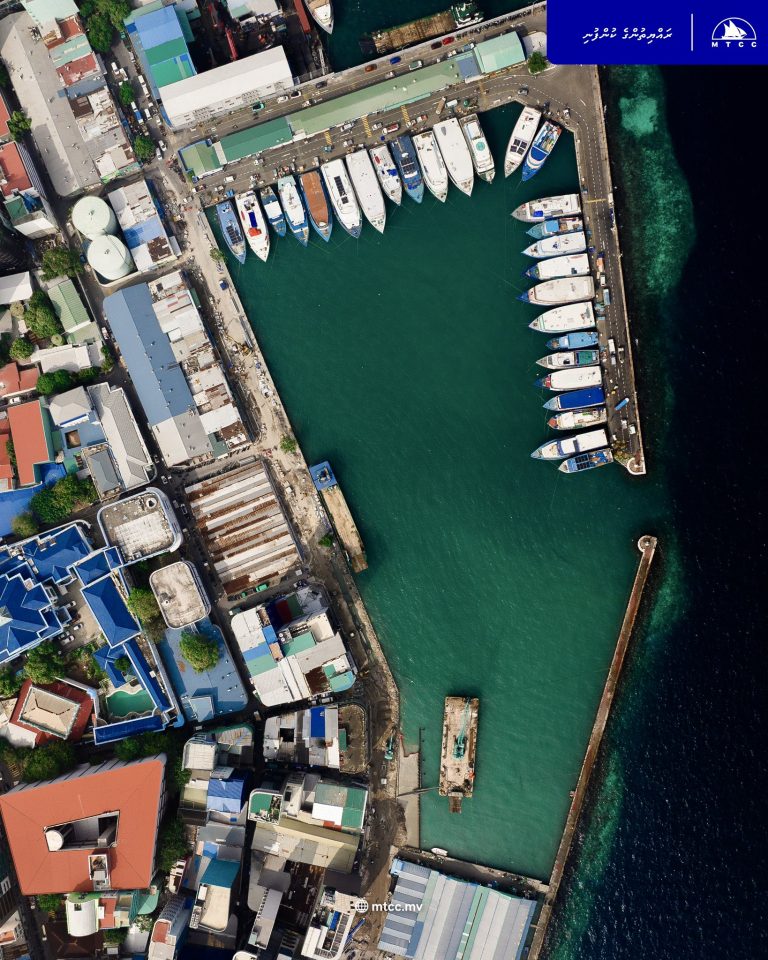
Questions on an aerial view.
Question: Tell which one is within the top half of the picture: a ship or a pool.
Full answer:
What appears within the top half of the picture is a ship.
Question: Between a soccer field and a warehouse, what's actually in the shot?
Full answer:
There is a warehouse in the scene.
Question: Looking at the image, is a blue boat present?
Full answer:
Yes, the frame does contain a blue boat.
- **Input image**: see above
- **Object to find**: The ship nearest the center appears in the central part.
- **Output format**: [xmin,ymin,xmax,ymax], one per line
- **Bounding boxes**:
[309,460,369,577]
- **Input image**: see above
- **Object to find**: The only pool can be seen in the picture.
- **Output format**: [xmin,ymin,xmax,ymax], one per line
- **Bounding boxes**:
[104,682,163,723]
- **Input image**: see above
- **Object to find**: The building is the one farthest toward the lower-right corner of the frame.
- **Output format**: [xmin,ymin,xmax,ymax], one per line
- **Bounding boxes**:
[376,854,539,960]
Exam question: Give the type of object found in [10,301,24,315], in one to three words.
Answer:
umbrella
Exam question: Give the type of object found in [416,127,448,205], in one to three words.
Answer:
boat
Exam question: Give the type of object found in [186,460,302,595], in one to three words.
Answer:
building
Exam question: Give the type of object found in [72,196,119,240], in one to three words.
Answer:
storage tank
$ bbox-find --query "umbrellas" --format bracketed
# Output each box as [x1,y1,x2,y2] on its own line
[52,335,64,346]
[10,301,24,315]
